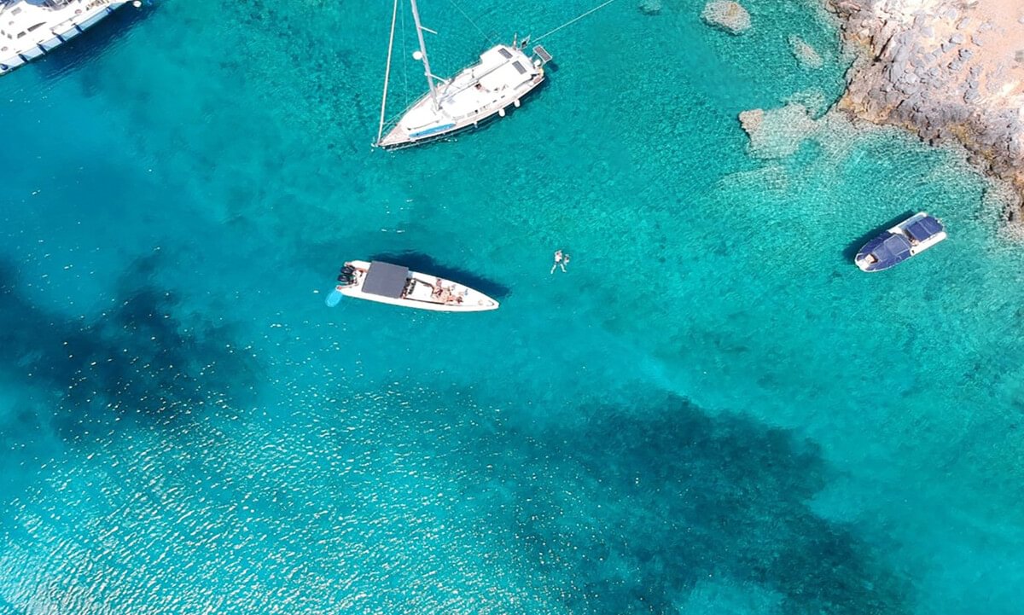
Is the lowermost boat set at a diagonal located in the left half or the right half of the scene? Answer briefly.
right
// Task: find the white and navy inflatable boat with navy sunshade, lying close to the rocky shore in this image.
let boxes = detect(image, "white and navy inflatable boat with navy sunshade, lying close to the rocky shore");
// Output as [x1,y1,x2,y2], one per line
[858,210,943,273]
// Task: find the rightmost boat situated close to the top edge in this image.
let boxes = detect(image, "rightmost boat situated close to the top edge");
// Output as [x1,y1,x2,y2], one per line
[373,0,552,151]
